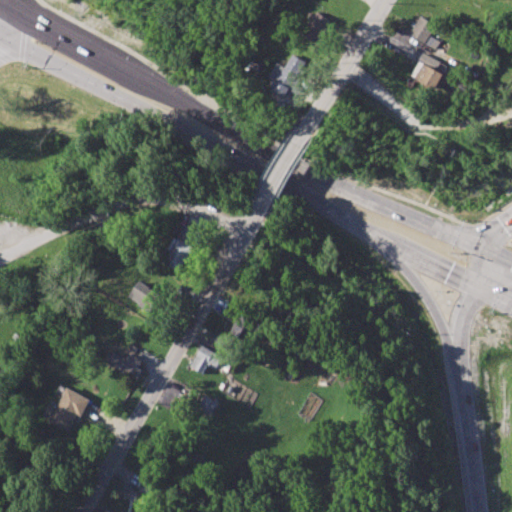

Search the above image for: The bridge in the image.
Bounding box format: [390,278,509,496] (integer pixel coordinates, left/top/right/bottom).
[250,118,316,210]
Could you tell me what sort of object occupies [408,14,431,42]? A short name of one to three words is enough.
barn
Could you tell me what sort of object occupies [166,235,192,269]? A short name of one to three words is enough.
house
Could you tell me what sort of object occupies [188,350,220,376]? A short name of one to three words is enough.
house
